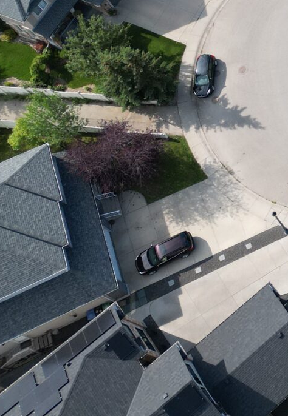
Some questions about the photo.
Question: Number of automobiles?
2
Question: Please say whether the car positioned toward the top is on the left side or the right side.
right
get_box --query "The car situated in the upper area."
[189,53,215,98]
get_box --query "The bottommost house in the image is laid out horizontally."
[0,282,288,416]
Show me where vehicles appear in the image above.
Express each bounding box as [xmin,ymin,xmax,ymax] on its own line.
[189,53,215,98]
[134,235,195,281]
